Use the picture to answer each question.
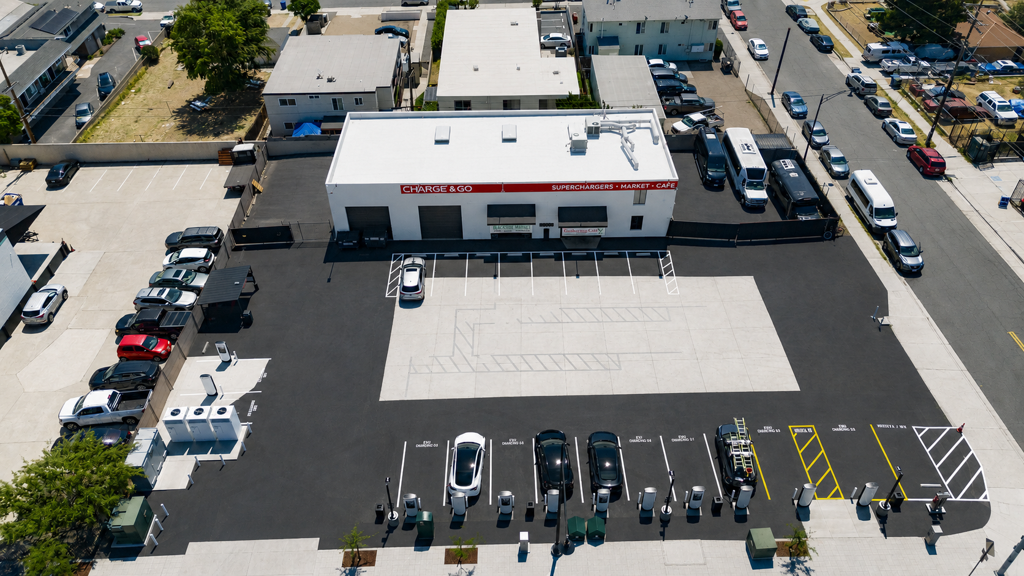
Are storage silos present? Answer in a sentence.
No, the photo shows no storage silo.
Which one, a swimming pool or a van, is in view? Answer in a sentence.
The one in the frame is a van.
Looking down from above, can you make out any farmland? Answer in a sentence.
No, no farmland is visible.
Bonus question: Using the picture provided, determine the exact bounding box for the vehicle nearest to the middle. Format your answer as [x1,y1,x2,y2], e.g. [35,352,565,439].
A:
[398,257,427,302]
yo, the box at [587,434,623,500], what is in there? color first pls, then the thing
black car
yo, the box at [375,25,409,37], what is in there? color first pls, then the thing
blue vehicle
